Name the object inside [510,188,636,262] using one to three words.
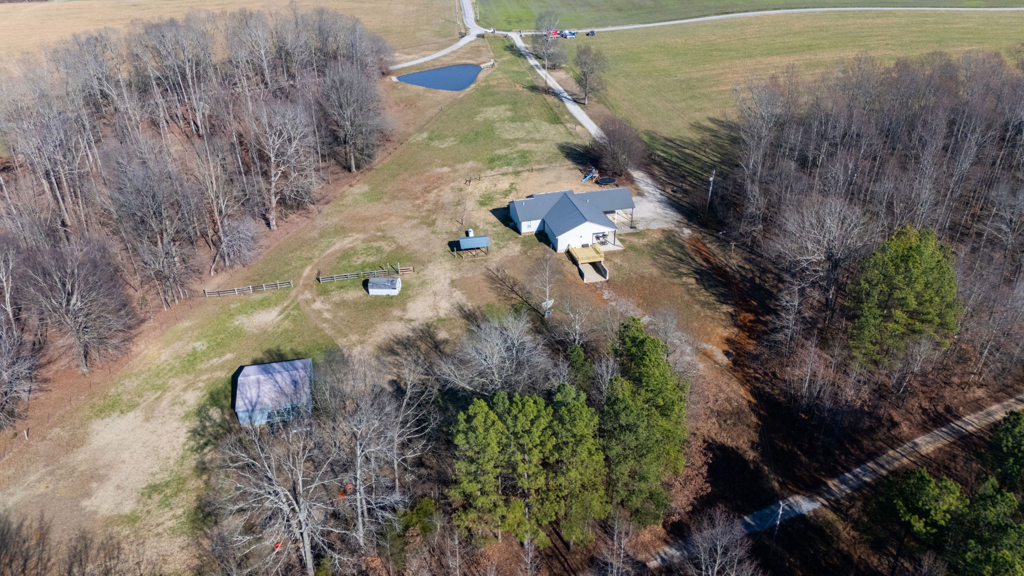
house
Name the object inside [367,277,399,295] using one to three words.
shed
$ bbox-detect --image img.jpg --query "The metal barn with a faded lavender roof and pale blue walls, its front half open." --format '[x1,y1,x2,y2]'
[235,358,316,431]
